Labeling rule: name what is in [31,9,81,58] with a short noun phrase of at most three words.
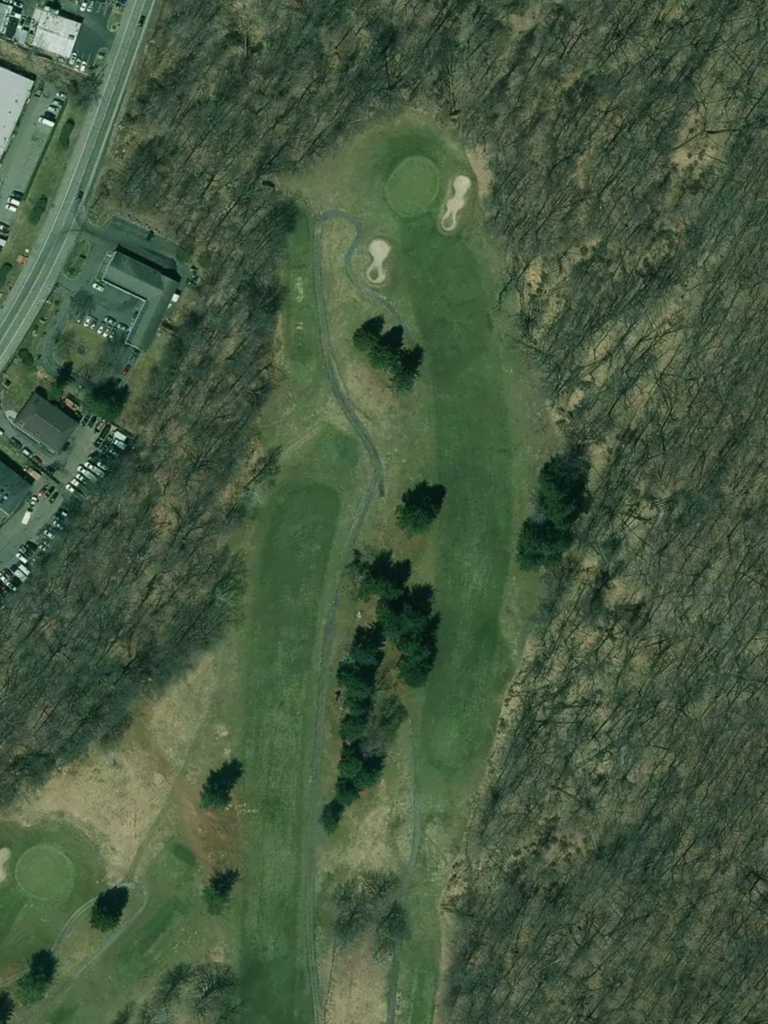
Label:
building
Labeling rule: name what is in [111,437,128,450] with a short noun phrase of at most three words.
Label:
vehicle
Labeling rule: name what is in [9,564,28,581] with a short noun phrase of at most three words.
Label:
vehicle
